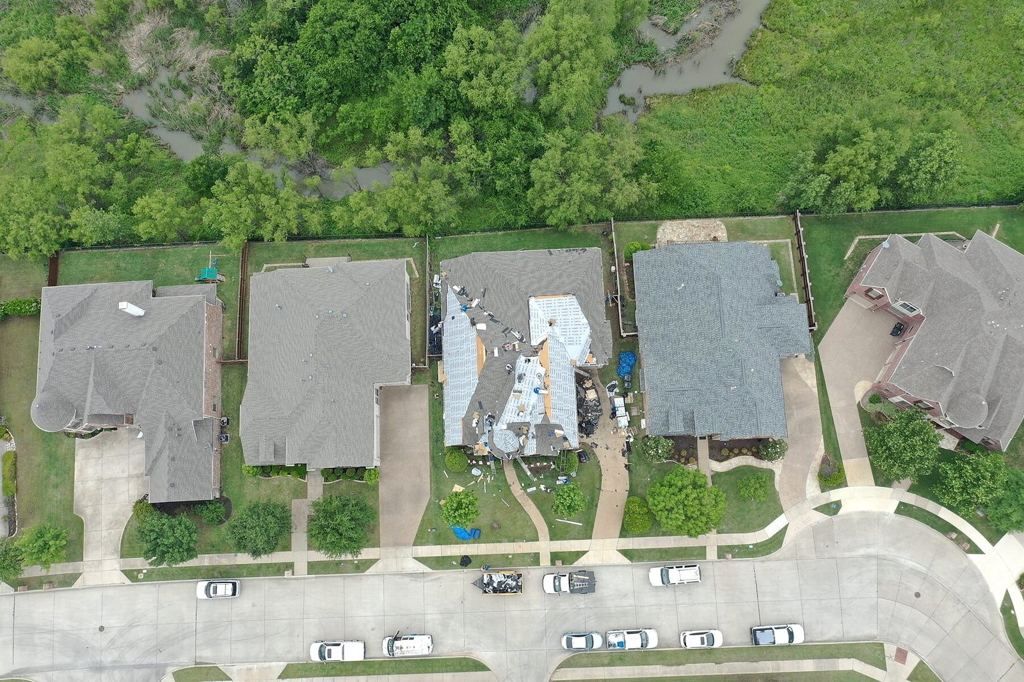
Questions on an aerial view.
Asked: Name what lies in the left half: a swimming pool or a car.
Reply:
car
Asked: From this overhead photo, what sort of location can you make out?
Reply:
residential area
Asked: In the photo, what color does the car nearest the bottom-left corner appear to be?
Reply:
white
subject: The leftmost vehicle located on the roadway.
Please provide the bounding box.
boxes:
[196,579,242,602]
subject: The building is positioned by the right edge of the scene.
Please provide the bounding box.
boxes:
[845,228,1024,453]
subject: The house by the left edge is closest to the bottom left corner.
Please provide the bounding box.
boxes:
[29,280,224,504]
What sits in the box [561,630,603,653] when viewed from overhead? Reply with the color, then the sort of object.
white car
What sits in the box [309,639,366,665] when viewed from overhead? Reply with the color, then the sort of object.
white truck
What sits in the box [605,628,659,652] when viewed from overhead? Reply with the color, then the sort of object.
white truck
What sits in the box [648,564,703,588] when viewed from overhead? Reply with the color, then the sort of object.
white car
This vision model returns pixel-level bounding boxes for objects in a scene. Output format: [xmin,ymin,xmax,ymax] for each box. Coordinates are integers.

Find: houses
[845,228,1024,453]
[239,259,414,471]
[629,241,811,441]
[29,280,224,504]
[440,247,613,462]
